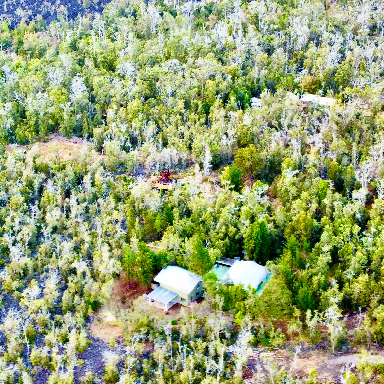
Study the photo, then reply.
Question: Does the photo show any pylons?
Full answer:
No, the photo shows no pylon.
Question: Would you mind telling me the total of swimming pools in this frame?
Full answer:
I count no swimming pools.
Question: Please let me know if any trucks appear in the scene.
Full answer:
No, no truck is visible in the scene.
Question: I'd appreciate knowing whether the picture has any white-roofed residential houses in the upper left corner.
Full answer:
No, in the upper left corner there is no white-roofed residential house.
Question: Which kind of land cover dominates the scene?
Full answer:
What you mostly see from above here is trees.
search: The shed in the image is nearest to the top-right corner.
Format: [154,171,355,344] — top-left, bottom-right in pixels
[300,95,343,114]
